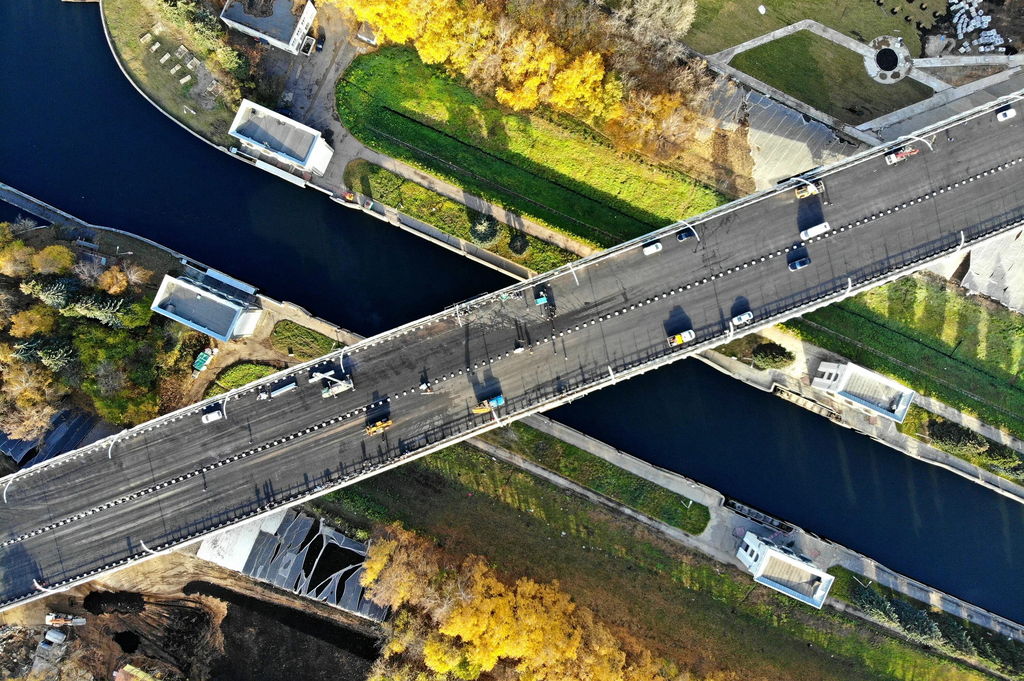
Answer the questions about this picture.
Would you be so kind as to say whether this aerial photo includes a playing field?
No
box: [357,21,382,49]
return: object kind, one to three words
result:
shed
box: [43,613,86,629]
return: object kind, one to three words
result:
vehicle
